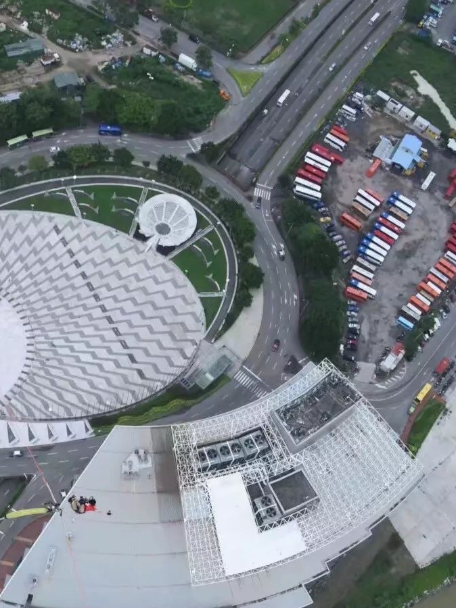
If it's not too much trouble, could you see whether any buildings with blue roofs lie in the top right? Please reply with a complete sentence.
Yes, there is a building with a blue roof in the top right.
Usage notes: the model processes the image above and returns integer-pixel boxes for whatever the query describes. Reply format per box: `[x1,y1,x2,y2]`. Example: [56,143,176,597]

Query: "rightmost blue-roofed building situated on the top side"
[388,134,423,178]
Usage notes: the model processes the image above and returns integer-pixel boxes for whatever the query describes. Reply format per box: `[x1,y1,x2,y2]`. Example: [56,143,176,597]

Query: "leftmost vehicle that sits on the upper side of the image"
[7,137,29,153]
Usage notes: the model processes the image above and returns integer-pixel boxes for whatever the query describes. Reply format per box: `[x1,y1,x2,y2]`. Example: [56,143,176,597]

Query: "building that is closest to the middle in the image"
[180,353,233,390]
